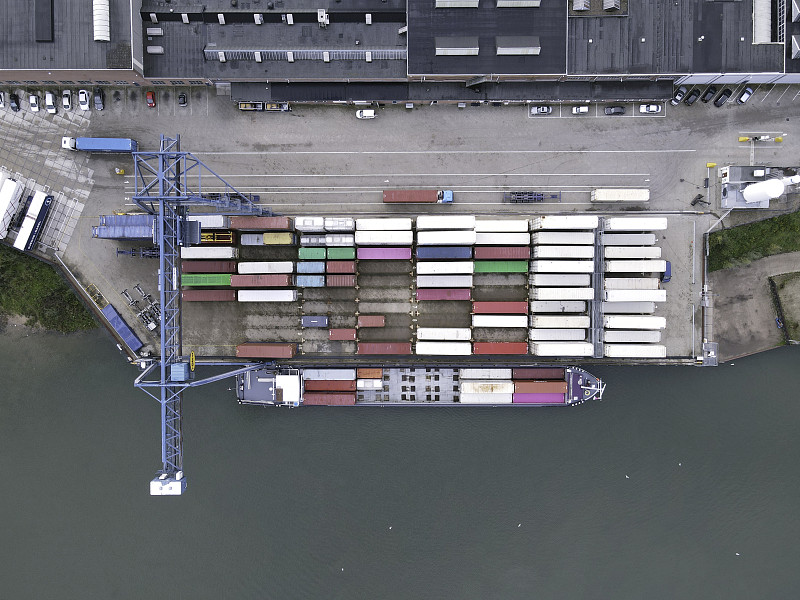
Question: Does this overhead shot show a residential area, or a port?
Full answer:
The area seen from above is a port.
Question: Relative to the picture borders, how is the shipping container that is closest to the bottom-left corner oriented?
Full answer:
From this overhead view, the shipping container that is closest to the bottom-left corner appears to run diagonally.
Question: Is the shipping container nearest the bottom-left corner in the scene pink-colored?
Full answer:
No, from above the shipping container nearest the bottom-left corner looks blue.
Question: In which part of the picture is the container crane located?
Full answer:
The container crane is in the left part of the image.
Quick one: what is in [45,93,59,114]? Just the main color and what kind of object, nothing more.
white vehicle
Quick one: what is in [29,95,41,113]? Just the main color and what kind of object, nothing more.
white vehicle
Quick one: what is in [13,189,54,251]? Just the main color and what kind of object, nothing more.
white trailer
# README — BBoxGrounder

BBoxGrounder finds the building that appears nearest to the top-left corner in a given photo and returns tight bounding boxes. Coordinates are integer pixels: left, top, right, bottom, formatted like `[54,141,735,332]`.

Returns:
[0,0,151,85]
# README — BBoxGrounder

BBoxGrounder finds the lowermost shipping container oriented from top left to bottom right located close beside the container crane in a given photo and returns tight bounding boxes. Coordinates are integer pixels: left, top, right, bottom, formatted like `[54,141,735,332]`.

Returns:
[102,303,148,352]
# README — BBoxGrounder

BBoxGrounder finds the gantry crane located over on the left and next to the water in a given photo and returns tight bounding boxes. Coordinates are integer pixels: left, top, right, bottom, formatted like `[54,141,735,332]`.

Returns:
[130,133,278,495]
